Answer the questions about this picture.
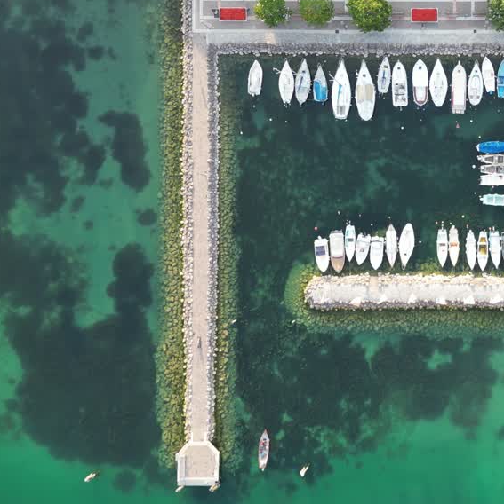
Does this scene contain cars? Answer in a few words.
No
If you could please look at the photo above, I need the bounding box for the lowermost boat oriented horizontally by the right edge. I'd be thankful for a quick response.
[478,194,504,206]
